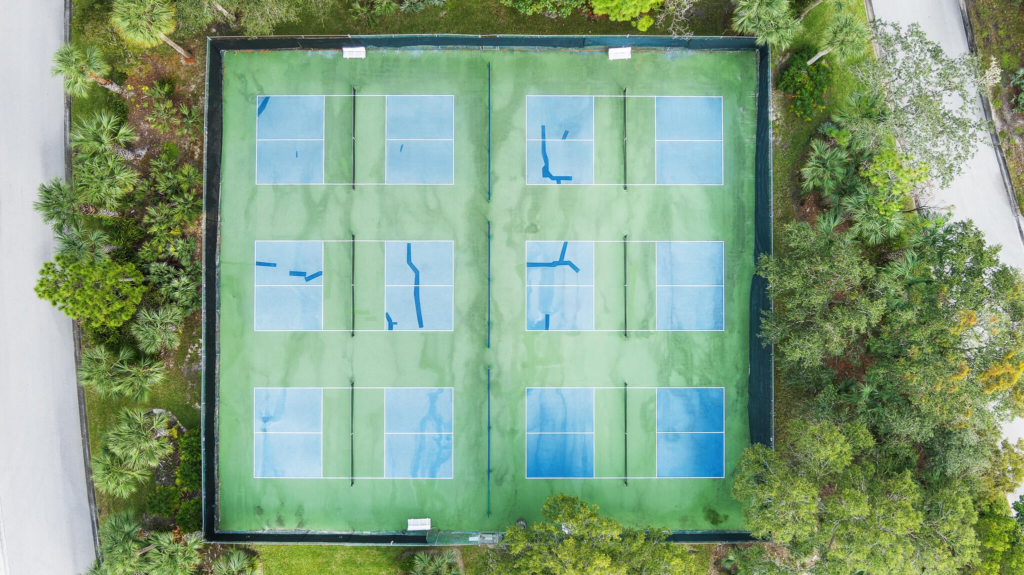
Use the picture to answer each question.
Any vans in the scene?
No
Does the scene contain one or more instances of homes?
No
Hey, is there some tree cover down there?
Yes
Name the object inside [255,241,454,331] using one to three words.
sports court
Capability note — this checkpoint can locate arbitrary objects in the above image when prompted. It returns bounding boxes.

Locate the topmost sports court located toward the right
[526,95,723,185]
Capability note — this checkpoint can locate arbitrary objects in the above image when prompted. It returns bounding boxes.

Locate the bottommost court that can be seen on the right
[526,388,725,478]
